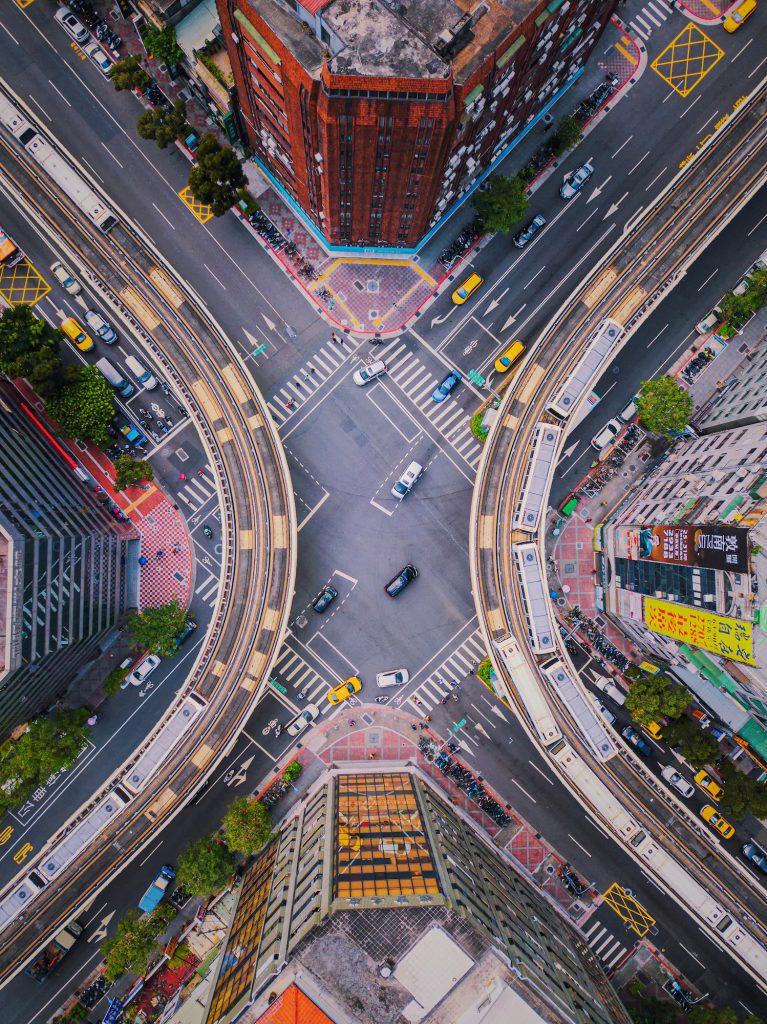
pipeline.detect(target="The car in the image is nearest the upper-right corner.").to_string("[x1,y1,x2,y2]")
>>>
[720,0,761,36]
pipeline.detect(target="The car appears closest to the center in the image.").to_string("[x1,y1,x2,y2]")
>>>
[388,458,426,499]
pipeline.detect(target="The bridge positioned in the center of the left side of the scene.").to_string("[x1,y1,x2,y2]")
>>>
[0,77,296,988]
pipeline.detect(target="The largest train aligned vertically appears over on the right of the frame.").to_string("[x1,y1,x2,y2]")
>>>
[508,318,622,761]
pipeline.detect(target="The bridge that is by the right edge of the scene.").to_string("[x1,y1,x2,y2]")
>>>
[469,77,767,988]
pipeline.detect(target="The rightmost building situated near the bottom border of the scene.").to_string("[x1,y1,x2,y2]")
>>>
[200,765,645,1024]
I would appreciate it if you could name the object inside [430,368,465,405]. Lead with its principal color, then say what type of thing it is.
blue car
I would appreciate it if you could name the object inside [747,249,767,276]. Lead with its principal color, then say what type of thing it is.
gray car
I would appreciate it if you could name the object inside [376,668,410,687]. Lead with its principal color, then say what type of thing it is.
white car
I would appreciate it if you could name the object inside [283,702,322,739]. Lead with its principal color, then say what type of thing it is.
white car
